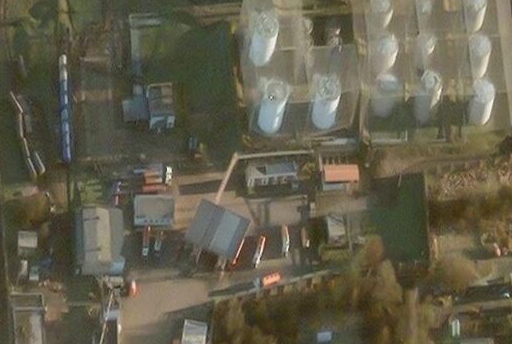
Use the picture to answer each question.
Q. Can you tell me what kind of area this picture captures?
industrial area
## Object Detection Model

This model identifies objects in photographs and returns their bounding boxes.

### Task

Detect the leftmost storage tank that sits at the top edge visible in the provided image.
[247,9,281,70]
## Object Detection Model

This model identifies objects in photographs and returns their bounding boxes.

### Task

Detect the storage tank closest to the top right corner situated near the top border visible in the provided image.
[458,0,490,34]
